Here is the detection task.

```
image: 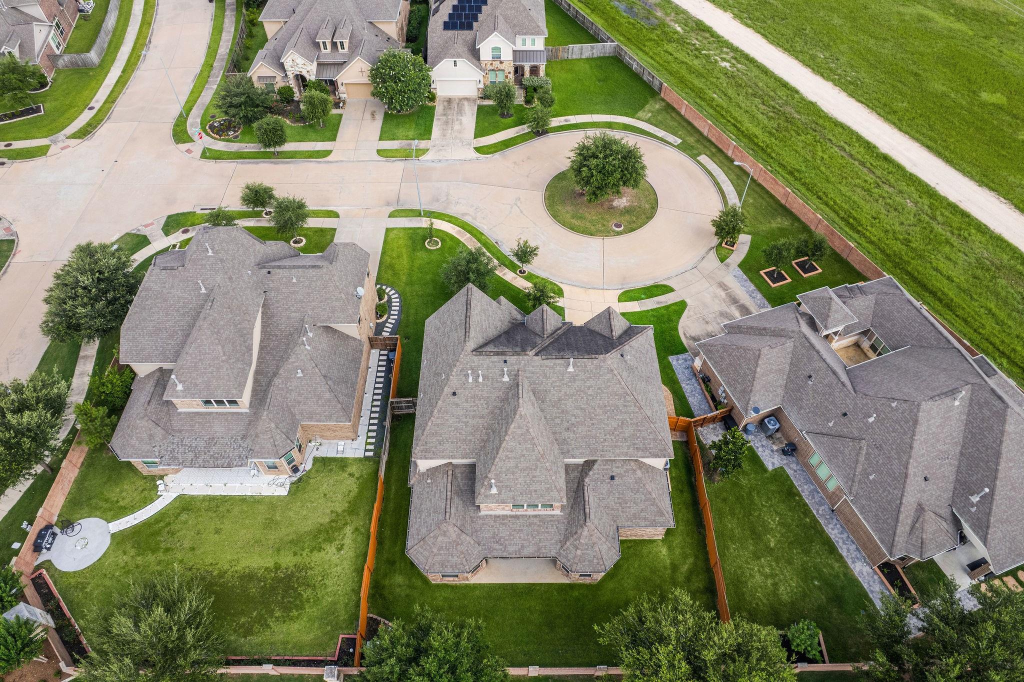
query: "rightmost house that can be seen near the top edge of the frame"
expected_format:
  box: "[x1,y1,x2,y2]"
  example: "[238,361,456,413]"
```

[427,0,548,97]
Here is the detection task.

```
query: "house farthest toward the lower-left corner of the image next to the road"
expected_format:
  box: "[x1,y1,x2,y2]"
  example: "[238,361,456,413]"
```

[107,225,378,480]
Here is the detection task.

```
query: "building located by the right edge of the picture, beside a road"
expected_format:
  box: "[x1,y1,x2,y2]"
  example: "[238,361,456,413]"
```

[694,276,1024,579]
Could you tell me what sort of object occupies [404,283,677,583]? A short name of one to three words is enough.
house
